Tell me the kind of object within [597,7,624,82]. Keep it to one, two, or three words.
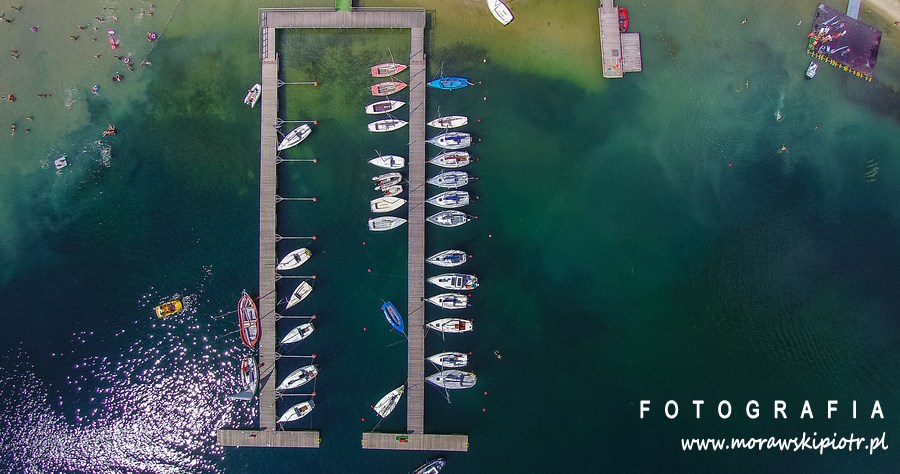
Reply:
pier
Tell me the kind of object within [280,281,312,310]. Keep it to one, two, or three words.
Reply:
boat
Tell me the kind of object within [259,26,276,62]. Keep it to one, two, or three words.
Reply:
pier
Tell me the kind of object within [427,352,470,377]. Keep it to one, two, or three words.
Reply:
boat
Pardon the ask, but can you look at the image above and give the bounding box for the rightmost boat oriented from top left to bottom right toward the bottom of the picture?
[382,301,408,339]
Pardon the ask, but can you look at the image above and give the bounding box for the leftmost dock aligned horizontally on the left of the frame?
[217,429,321,448]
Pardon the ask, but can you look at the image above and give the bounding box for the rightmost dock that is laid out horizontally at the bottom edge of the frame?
[360,432,469,452]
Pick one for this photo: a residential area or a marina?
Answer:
marina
